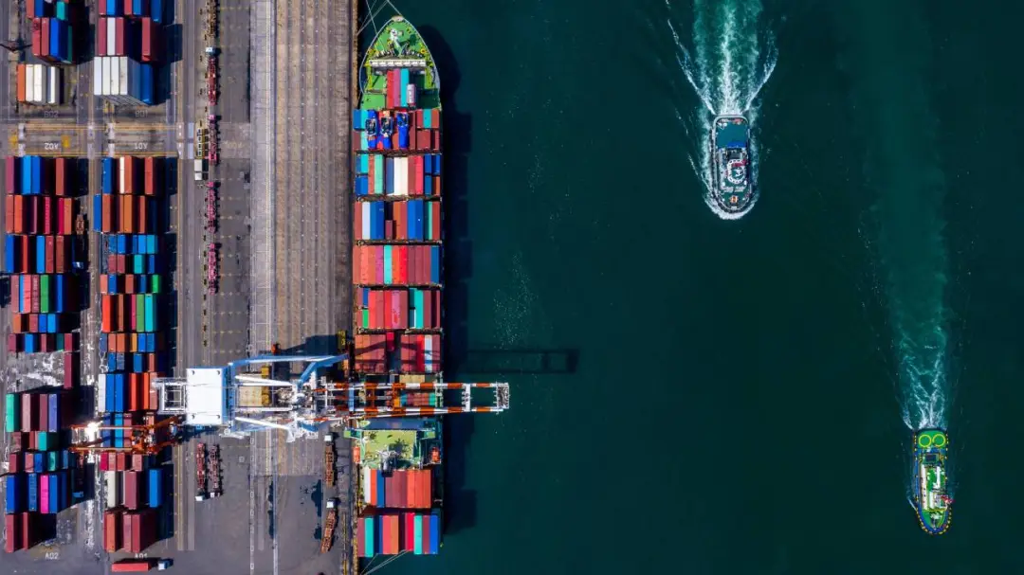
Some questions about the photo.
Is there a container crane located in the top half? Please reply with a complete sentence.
No, there is no container crane in the top half.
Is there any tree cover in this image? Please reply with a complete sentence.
No, the scene doesn't show any tree cover.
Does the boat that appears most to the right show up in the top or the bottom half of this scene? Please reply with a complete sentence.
The boat that appears most to the right is in the bottom half of the image.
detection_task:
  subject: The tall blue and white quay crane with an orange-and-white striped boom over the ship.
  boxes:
[150,338,510,445]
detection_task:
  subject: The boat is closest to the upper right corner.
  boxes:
[711,117,751,216]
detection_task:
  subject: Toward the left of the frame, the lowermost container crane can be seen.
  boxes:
[71,412,184,460]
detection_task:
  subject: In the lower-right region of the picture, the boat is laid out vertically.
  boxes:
[912,430,956,536]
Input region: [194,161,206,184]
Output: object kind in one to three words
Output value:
vehicle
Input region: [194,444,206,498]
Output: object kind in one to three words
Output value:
vehicle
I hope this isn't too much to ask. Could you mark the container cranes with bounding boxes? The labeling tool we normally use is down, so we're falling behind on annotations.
[150,338,510,445]
[71,412,184,460]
